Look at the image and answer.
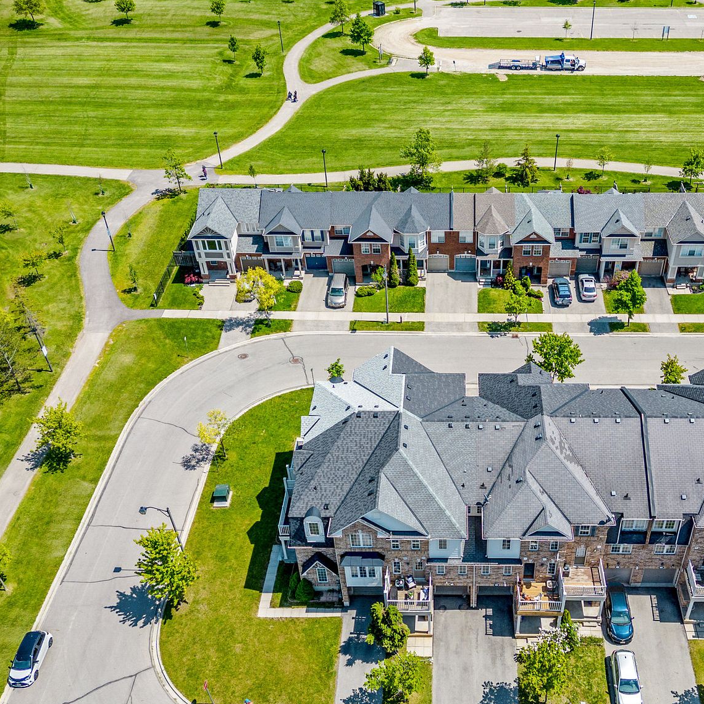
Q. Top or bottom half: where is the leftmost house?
top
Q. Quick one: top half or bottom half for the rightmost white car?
bottom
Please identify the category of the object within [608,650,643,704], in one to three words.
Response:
car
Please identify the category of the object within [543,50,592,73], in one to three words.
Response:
truck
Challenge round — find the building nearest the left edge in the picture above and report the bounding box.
[188,188,268,285]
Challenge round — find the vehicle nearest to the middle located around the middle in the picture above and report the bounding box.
[327,272,350,305]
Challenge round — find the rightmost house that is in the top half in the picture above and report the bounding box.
[637,193,704,285]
